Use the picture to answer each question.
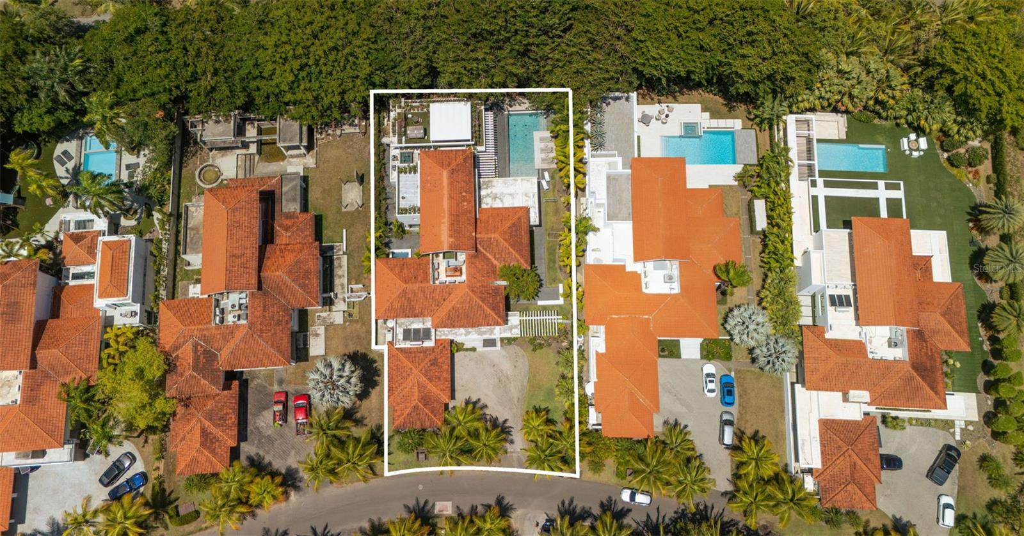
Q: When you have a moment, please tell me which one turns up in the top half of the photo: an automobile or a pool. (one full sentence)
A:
Looking in the top half of the photo, you will find a pool.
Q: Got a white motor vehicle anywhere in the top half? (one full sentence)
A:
No, there is no white motor vehicle in the top half.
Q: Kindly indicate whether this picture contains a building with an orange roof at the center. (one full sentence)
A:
Yes, looking at the center, one can make out a building with an orange roof.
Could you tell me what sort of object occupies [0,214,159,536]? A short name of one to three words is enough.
house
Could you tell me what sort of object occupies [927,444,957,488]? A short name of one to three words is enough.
car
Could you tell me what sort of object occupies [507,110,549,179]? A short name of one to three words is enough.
swimming pool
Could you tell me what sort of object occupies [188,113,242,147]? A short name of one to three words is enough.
building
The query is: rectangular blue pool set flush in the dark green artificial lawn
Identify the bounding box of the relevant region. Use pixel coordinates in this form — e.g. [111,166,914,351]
[817,143,888,173]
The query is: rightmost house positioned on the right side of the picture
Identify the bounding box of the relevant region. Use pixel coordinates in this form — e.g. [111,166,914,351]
[789,216,972,511]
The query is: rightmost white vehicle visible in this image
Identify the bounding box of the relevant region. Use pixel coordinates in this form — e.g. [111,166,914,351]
[935,494,957,528]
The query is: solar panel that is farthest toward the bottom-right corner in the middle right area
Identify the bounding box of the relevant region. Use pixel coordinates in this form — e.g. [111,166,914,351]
[828,294,852,311]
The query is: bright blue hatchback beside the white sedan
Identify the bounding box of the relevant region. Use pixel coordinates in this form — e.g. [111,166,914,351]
[718,375,735,407]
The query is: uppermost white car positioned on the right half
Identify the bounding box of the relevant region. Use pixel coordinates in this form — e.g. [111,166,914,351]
[700,363,718,397]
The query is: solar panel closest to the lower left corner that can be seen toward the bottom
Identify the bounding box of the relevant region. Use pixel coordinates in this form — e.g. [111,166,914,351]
[403,327,431,345]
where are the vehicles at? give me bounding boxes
[292,396,311,438]
[879,454,903,470]
[718,411,736,447]
[14,464,45,477]
[100,453,136,487]
[927,444,957,488]
[272,391,289,427]
[718,375,735,407]
[618,487,653,506]
[935,494,957,528]
[700,363,718,397]
[110,473,148,499]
